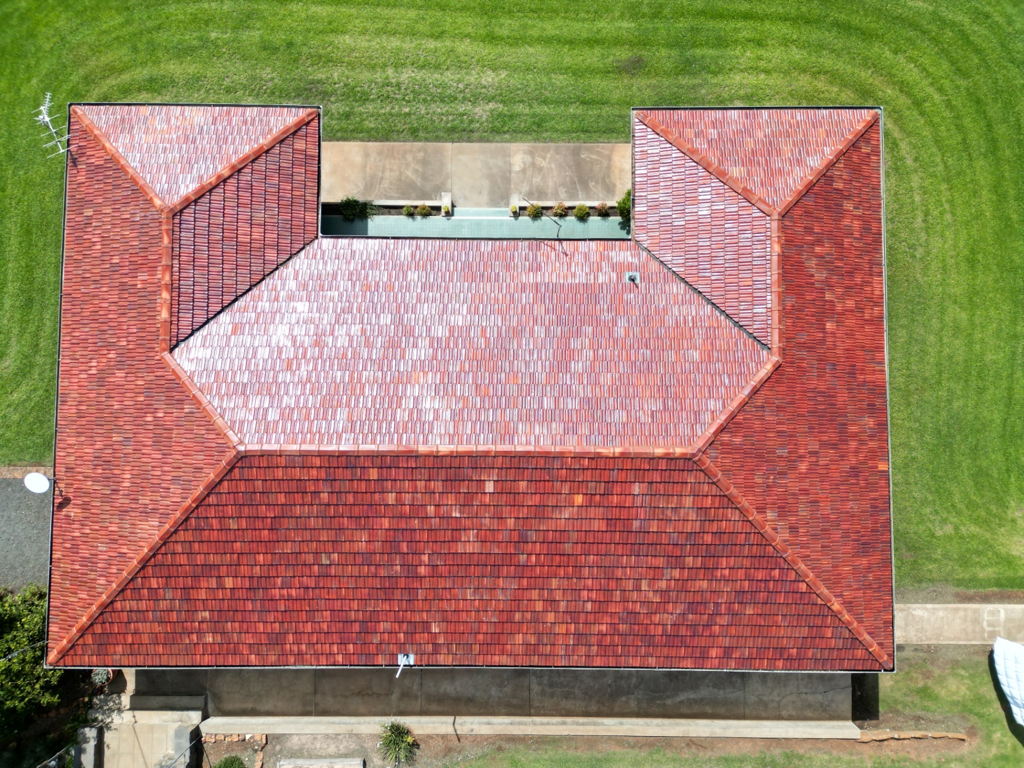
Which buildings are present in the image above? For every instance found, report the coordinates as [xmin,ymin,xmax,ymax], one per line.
[45,104,896,678]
